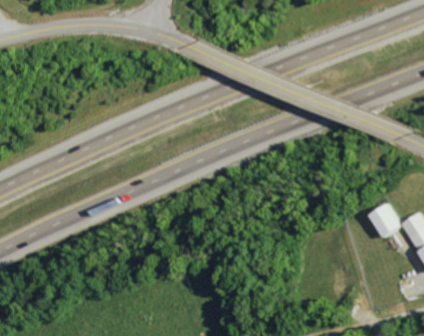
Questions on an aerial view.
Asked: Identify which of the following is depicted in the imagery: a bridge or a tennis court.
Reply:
bridge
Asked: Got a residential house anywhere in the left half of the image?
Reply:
No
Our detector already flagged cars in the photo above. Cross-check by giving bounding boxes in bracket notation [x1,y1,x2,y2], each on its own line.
[131,178,142,186]
[406,270,412,279]
[68,146,79,153]
[411,269,416,278]
[16,242,28,249]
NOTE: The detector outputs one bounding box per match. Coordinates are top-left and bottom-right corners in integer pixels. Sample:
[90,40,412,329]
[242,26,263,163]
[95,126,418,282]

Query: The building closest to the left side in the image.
[368,204,402,238]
